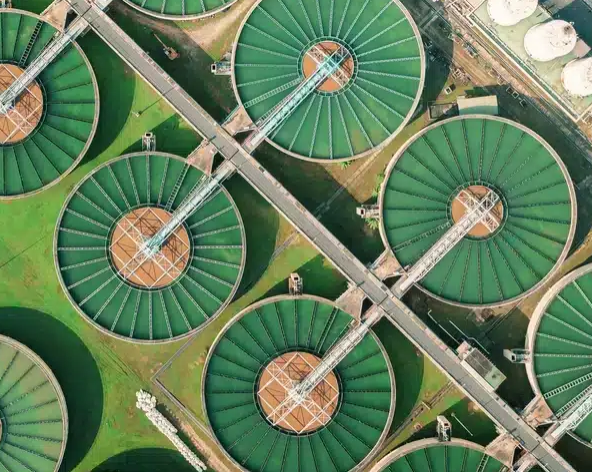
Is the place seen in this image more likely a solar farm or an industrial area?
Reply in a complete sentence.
The picture captures an industrial area.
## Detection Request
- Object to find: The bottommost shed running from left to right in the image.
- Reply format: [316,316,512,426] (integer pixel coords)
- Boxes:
[456,95,499,114]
